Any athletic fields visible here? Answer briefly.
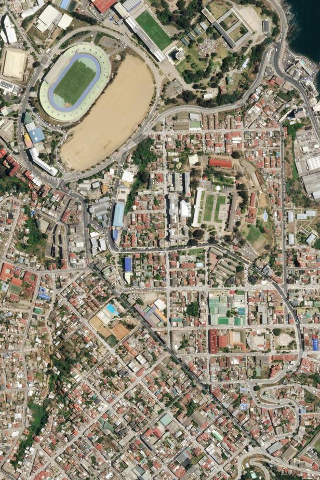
Yes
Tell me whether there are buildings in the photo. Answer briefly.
Yes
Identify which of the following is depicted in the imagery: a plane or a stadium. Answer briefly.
stadium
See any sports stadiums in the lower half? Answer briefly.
No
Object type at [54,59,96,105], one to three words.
sports field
